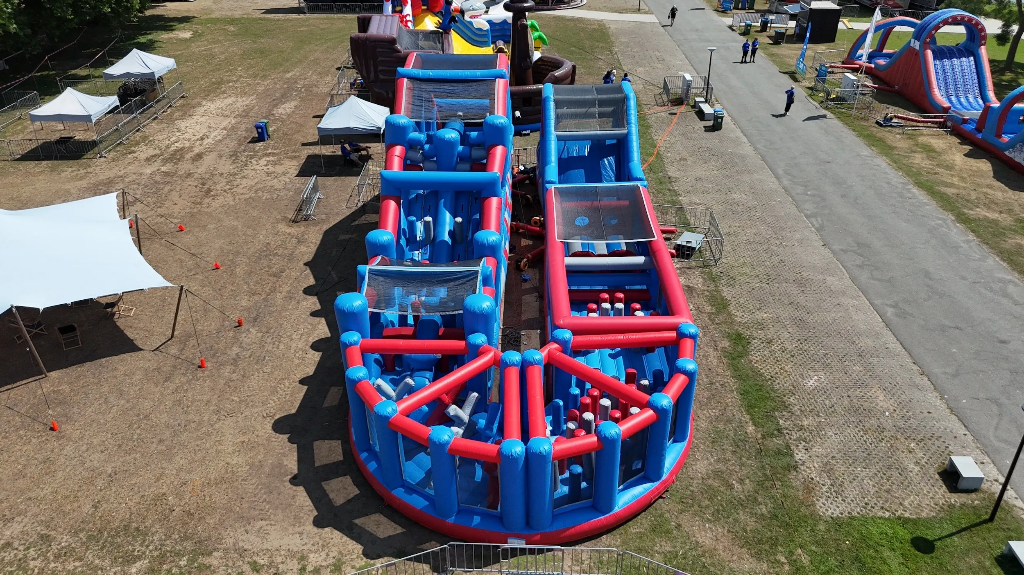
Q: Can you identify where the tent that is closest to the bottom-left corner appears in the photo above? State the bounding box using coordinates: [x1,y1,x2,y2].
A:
[0,187,235,420]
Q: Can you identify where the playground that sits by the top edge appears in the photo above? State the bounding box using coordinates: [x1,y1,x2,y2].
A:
[416,14,495,60]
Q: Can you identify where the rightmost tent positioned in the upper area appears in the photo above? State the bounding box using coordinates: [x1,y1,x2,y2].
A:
[315,96,391,172]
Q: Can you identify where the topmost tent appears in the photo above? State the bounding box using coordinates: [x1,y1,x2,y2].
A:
[99,38,172,96]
